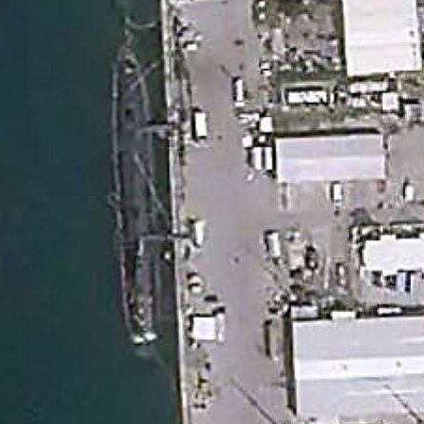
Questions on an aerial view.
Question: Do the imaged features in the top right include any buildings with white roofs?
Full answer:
Yes, in the top right there is a building with a white roof.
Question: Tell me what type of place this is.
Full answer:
What you see here is a port.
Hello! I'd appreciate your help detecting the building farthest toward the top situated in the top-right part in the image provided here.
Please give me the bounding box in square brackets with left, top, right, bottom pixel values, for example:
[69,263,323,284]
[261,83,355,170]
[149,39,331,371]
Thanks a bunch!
[342,0,422,76]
